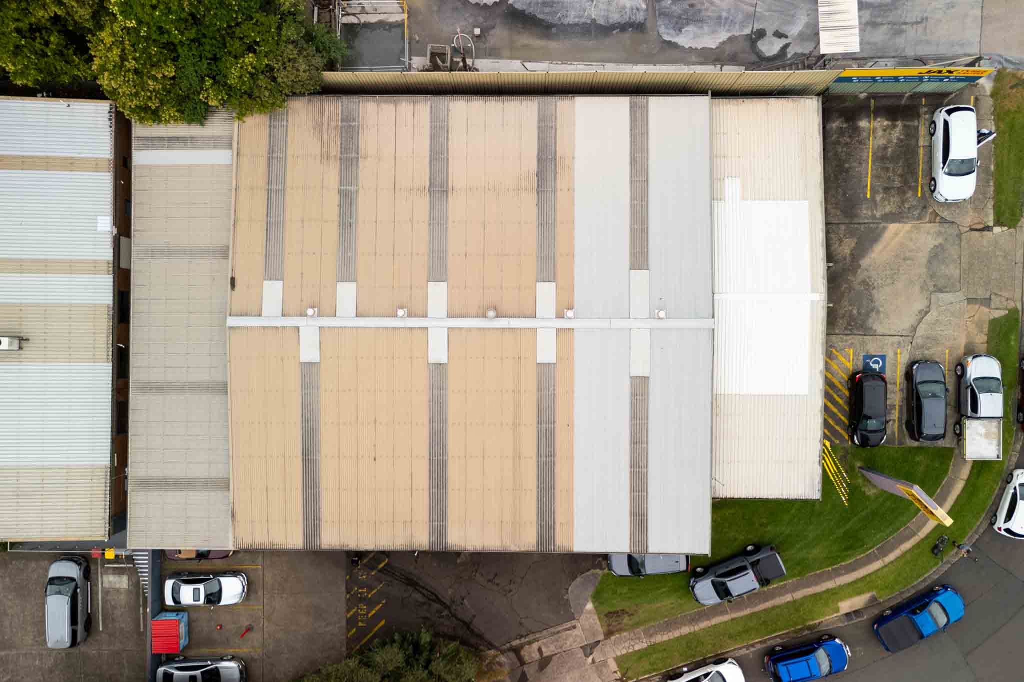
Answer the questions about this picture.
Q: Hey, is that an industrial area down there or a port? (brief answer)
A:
industrial area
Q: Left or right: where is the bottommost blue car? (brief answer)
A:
right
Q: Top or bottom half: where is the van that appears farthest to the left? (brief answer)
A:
bottom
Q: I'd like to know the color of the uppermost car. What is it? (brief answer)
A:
white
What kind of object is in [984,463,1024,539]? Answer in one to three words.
car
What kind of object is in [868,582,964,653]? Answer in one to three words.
truck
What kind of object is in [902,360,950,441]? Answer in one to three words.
car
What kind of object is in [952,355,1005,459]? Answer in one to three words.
truck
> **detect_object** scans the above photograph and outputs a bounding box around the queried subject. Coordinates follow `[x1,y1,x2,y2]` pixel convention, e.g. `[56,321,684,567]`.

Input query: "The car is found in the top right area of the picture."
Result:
[926,106,997,206]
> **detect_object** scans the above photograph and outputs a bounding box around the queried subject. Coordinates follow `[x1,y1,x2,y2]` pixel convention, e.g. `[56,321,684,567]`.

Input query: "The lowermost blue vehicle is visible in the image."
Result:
[757,627,848,682]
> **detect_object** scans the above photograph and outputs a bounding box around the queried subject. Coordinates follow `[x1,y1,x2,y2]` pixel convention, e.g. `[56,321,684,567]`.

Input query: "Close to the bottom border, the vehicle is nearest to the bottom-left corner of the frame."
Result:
[43,554,93,649]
